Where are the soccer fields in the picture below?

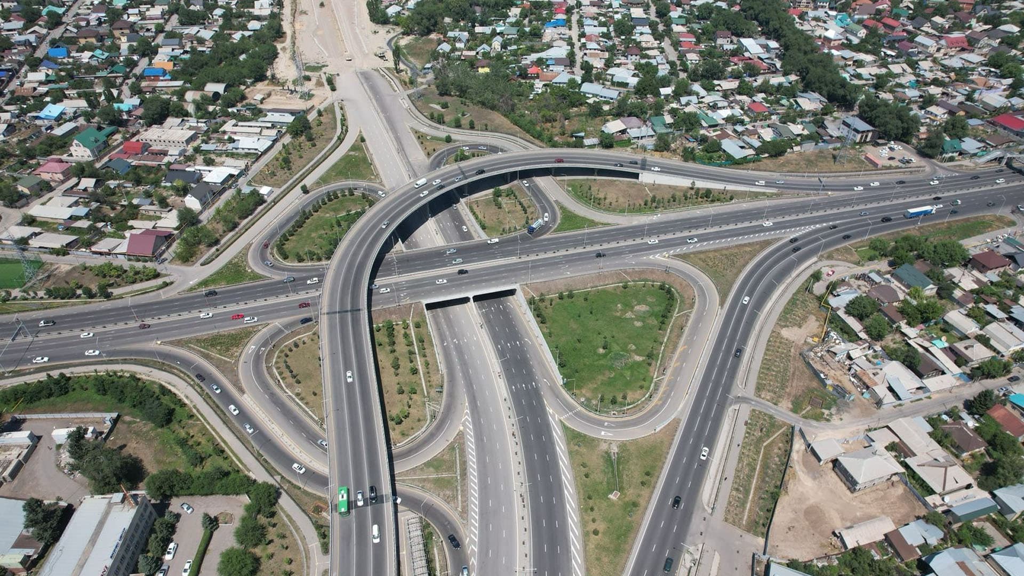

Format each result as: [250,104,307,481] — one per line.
[0,250,43,289]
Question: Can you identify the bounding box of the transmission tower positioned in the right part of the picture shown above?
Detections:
[829,101,864,167]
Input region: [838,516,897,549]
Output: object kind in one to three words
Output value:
house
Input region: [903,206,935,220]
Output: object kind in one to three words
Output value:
vehicle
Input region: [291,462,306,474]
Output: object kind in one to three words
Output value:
vehicle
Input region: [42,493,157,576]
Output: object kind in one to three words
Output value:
building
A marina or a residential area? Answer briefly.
residential area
